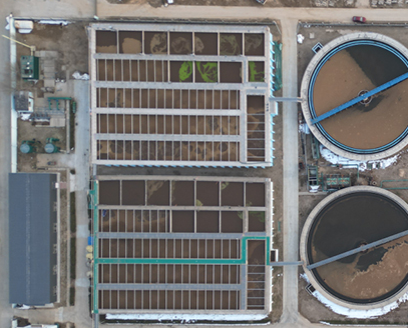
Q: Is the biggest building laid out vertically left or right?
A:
left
